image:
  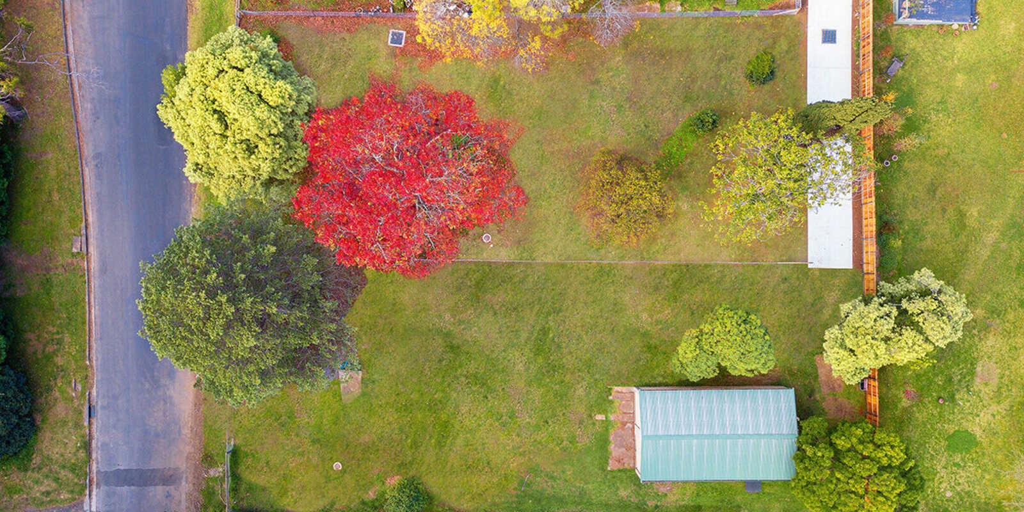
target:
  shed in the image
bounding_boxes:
[634,386,801,482]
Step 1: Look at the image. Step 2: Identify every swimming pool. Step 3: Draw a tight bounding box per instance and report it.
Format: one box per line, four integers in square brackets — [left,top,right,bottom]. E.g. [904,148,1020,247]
[894,0,979,24]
